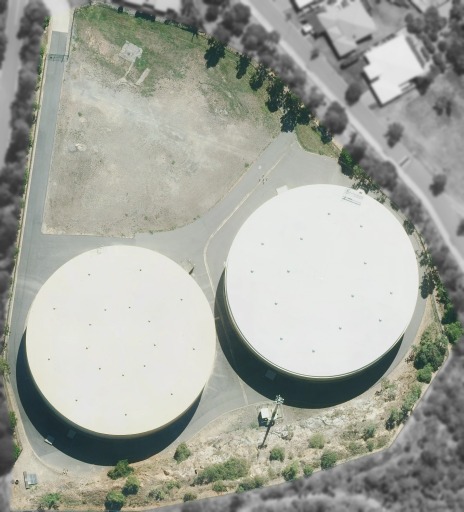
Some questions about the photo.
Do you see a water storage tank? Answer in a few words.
Yes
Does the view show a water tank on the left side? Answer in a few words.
Yes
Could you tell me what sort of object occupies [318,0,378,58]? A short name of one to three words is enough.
house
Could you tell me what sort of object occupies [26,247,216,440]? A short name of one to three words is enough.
water tank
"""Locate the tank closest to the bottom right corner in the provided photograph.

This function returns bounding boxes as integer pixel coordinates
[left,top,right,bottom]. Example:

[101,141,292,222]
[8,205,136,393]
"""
[222,184,418,382]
